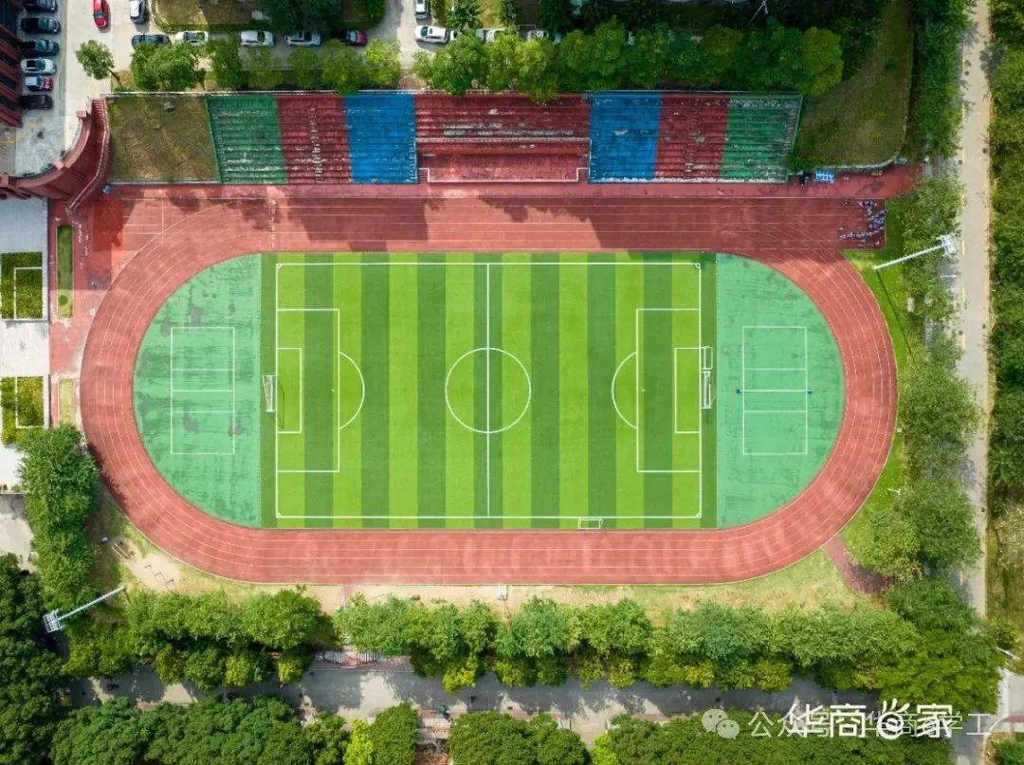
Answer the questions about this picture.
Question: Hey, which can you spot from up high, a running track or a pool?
running track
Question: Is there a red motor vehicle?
Yes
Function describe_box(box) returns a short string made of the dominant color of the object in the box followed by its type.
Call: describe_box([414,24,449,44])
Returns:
white car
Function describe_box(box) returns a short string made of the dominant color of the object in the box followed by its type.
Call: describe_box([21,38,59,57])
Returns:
black car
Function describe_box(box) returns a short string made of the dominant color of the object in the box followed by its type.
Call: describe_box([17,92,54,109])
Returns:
black car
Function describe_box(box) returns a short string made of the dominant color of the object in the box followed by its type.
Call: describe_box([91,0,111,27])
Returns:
red car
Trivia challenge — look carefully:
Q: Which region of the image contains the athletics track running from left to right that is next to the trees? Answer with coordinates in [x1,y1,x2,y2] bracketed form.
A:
[80,197,898,583]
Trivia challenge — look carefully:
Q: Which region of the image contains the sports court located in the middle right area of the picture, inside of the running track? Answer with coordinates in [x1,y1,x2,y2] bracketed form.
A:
[717,253,843,527]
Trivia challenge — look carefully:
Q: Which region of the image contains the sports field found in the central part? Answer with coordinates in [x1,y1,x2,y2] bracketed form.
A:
[261,252,716,528]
